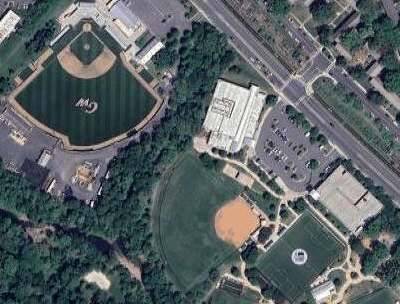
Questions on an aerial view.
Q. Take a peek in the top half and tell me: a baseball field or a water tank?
baseball field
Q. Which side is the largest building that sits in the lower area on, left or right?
right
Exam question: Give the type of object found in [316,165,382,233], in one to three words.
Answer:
building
